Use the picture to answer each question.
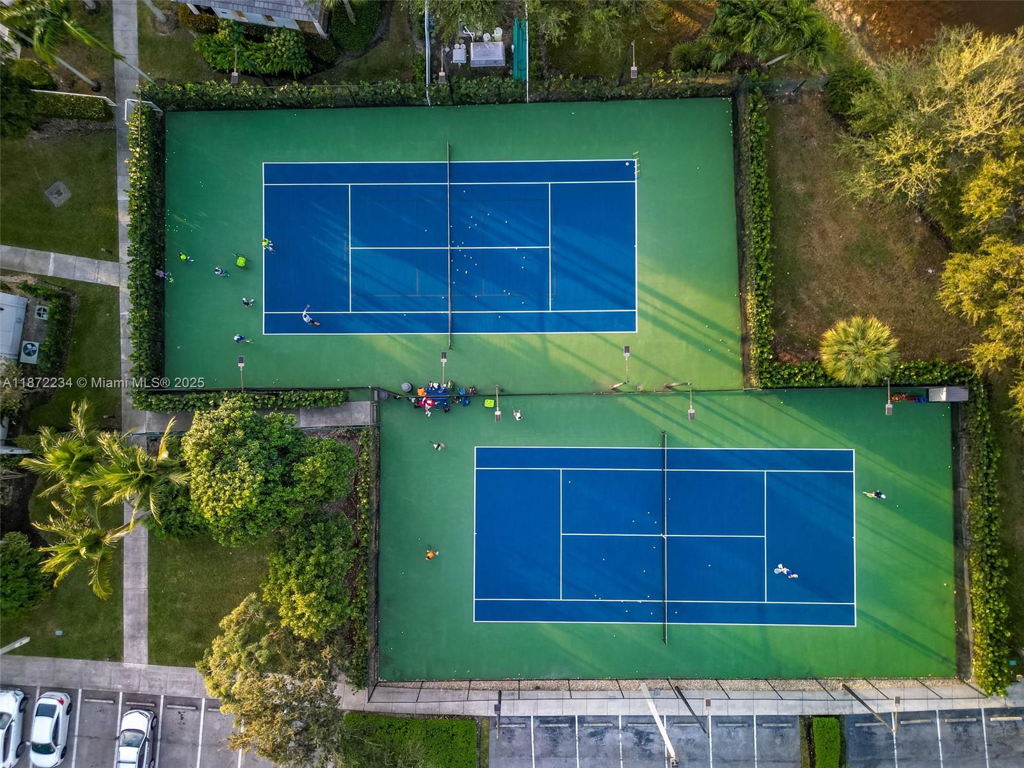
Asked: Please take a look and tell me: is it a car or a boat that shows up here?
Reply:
car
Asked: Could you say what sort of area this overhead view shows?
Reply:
sports ground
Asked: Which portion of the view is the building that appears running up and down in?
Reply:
left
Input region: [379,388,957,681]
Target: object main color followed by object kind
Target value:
green tennis court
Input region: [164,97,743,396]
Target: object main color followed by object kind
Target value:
green tennis court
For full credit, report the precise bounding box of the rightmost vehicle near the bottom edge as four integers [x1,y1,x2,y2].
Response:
[109,708,152,768]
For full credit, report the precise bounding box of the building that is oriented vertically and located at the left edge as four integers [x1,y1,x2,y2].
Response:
[0,293,28,359]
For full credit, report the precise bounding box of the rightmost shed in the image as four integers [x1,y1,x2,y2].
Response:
[923,386,969,402]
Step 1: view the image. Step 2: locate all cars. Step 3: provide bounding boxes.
[109,708,152,768]
[21,694,69,768]
[0,696,29,768]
